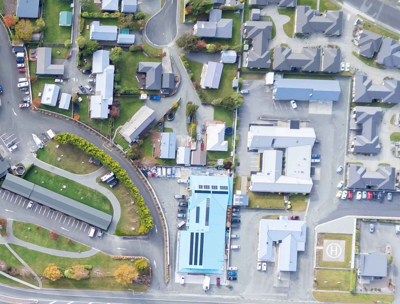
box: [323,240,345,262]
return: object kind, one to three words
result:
helipad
